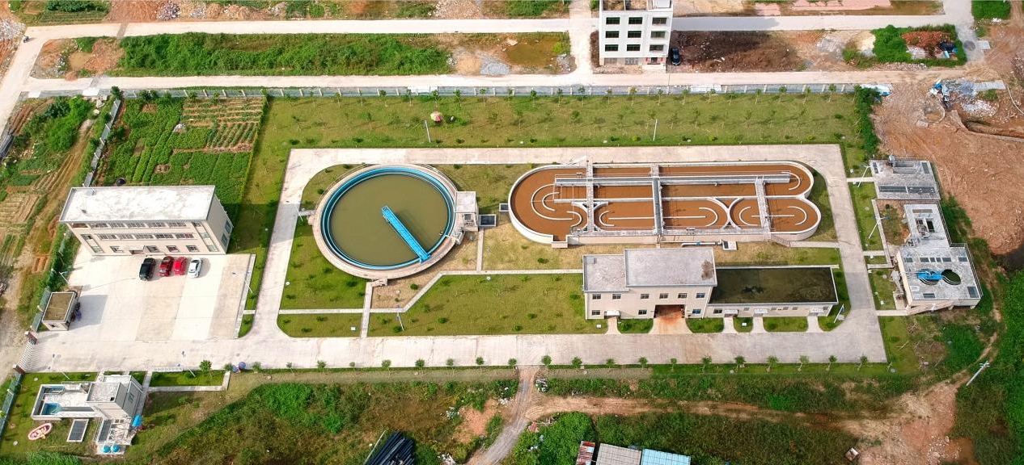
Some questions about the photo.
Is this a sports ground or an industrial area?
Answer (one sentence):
The picture captures an industrial area.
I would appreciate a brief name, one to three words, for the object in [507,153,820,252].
storage tank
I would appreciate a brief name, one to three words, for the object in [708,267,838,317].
building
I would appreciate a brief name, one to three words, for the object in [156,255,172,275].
car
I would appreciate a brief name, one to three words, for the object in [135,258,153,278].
car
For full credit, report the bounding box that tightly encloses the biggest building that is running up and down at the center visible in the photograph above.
[452,191,478,248]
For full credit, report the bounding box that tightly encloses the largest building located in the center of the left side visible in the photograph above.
[58,186,234,261]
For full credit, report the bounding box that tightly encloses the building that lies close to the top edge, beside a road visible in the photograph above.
[598,0,672,71]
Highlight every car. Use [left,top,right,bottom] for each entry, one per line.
[670,48,679,63]
[156,255,172,275]
[186,258,201,276]
[171,256,186,274]
[135,258,153,278]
